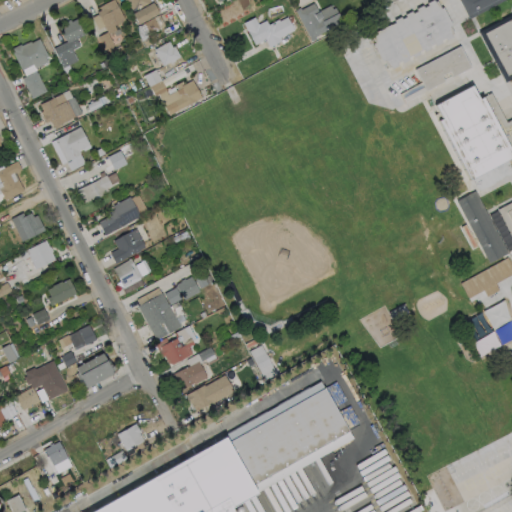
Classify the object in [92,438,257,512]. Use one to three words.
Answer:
building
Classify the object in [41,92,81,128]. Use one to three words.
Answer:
house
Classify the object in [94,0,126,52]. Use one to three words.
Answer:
house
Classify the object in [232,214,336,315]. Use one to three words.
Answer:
baseball field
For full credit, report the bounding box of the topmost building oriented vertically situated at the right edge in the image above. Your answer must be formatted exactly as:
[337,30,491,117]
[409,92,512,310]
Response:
[481,12,512,78]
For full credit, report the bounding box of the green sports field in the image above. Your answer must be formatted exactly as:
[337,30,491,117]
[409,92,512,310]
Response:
[144,36,512,502]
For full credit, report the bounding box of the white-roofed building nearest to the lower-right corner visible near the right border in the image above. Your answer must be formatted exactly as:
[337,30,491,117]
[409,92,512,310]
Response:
[476,332,502,356]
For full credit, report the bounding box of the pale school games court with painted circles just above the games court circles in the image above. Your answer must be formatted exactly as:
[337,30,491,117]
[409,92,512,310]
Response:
[424,431,512,512]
